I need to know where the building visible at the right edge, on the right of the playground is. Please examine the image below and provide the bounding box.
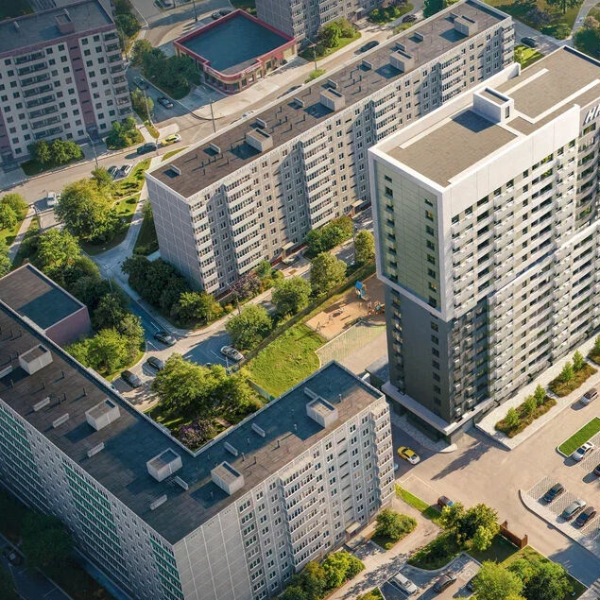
[363,40,600,445]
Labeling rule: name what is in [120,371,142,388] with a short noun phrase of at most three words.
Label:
car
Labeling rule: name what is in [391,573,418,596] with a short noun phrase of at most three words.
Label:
car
